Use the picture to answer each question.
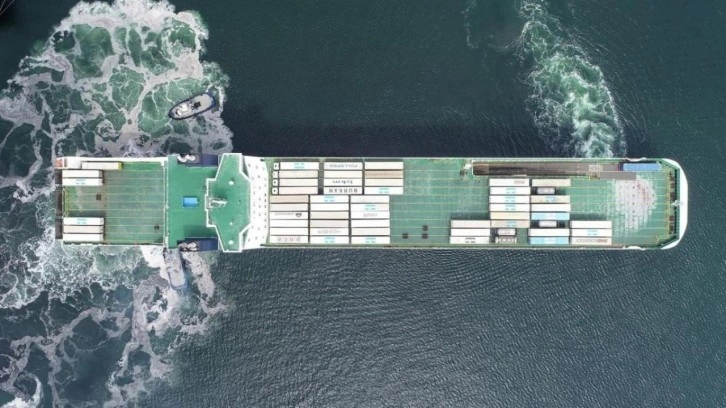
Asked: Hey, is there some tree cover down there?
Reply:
No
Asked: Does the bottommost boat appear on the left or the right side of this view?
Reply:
left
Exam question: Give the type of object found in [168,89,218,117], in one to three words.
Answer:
boat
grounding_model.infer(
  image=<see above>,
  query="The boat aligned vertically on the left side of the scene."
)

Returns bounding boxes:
[164,246,186,291]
